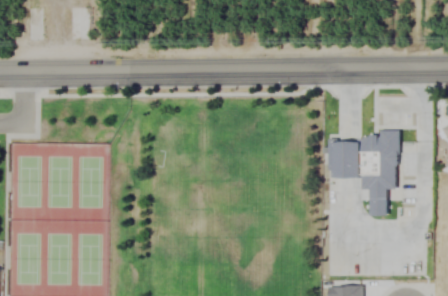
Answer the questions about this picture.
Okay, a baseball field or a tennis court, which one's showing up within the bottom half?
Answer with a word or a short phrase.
tennis court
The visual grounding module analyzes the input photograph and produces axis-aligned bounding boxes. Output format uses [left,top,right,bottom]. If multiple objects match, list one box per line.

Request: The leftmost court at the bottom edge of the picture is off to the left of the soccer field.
[15,234,42,286]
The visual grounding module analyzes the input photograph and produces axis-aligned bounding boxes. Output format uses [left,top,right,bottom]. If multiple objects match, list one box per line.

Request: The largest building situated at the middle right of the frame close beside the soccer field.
[329,131,401,217]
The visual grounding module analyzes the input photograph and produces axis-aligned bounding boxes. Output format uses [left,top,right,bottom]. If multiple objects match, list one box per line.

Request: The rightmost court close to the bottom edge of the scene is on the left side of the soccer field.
[76,234,103,286]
